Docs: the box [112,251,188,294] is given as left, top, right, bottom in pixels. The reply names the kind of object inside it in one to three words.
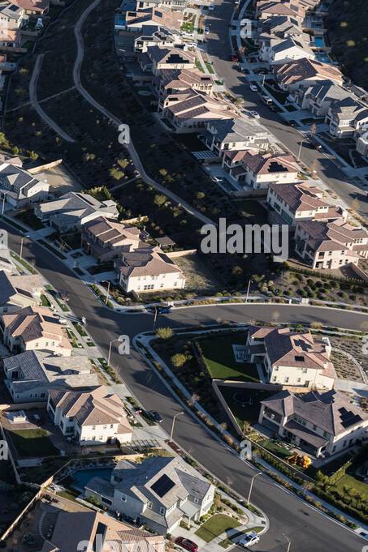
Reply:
house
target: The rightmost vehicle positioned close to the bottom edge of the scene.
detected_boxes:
[239,531,260,547]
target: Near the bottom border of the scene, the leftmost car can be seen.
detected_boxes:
[175,539,197,552]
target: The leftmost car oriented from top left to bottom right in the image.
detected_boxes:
[147,411,164,423]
